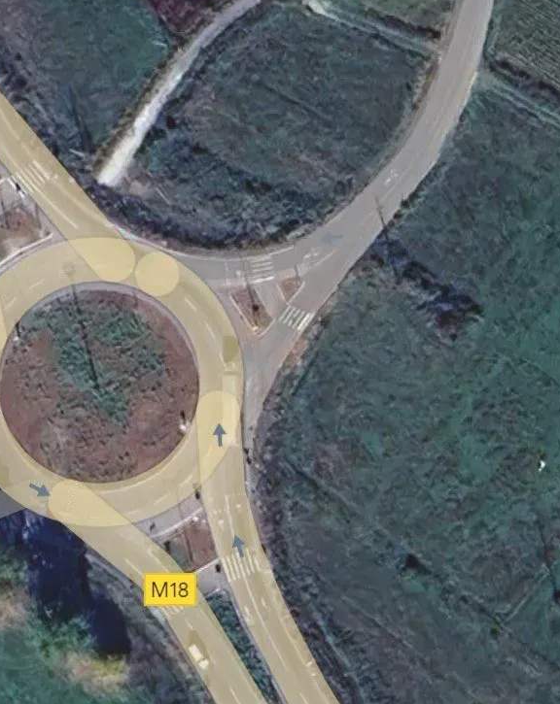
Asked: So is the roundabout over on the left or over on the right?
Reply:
left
